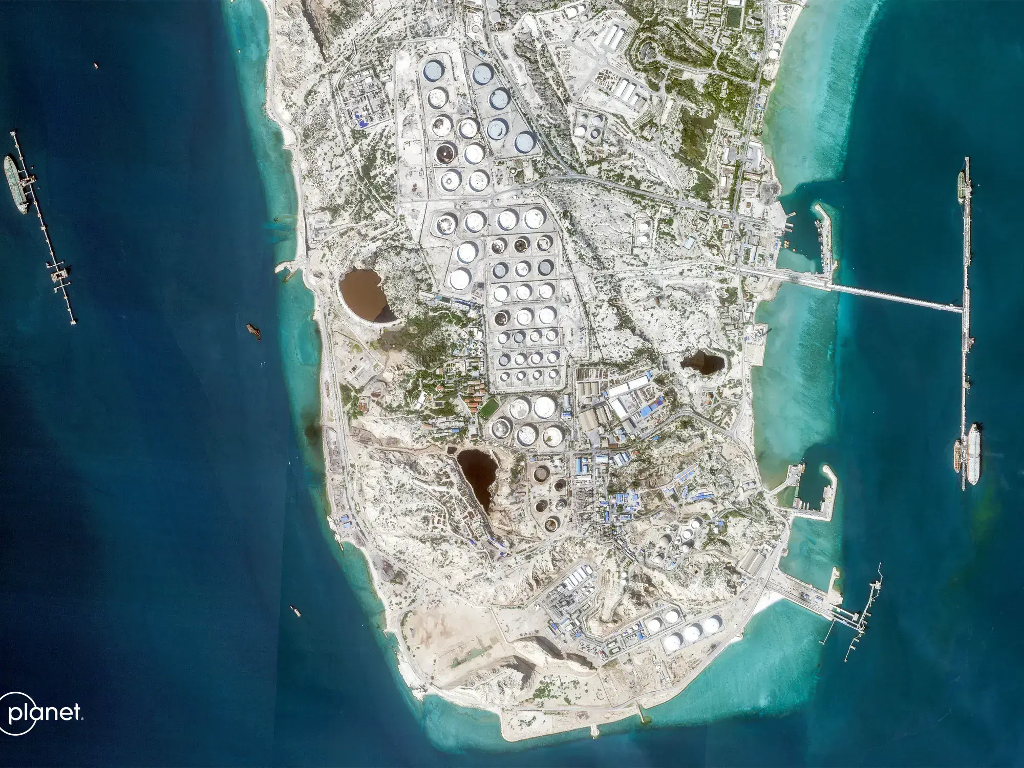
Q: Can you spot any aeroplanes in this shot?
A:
No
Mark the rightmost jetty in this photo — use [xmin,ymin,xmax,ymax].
[960,156,972,491]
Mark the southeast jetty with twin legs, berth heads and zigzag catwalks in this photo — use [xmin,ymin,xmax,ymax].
[819,563,883,661]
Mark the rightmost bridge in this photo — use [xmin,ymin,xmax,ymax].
[832,286,963,313]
